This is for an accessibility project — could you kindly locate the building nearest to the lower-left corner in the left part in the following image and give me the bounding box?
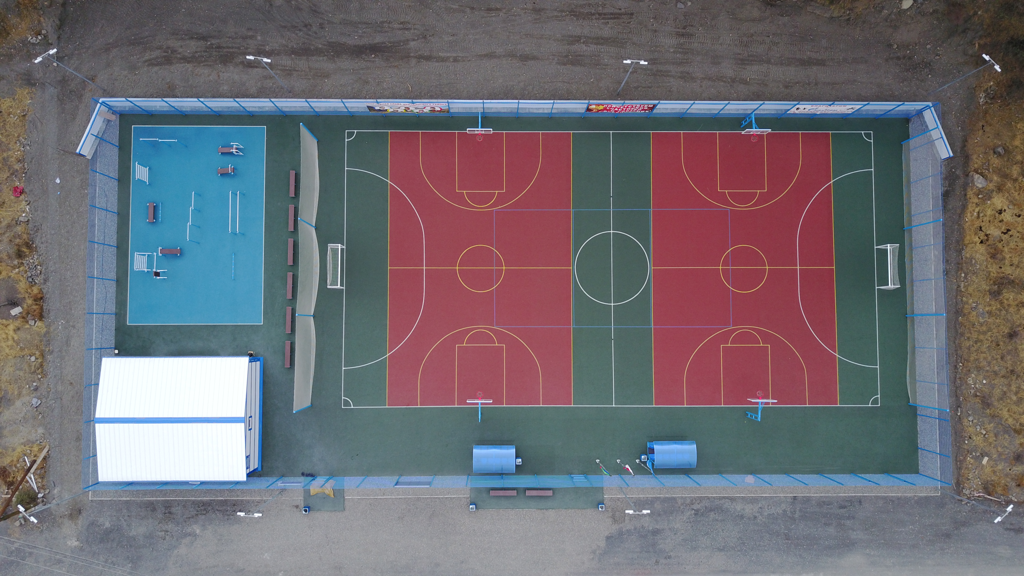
[93,355,263,483]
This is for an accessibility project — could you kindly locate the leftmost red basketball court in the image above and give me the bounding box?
[387,132,573,406]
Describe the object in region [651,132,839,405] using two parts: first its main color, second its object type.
red basketball court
